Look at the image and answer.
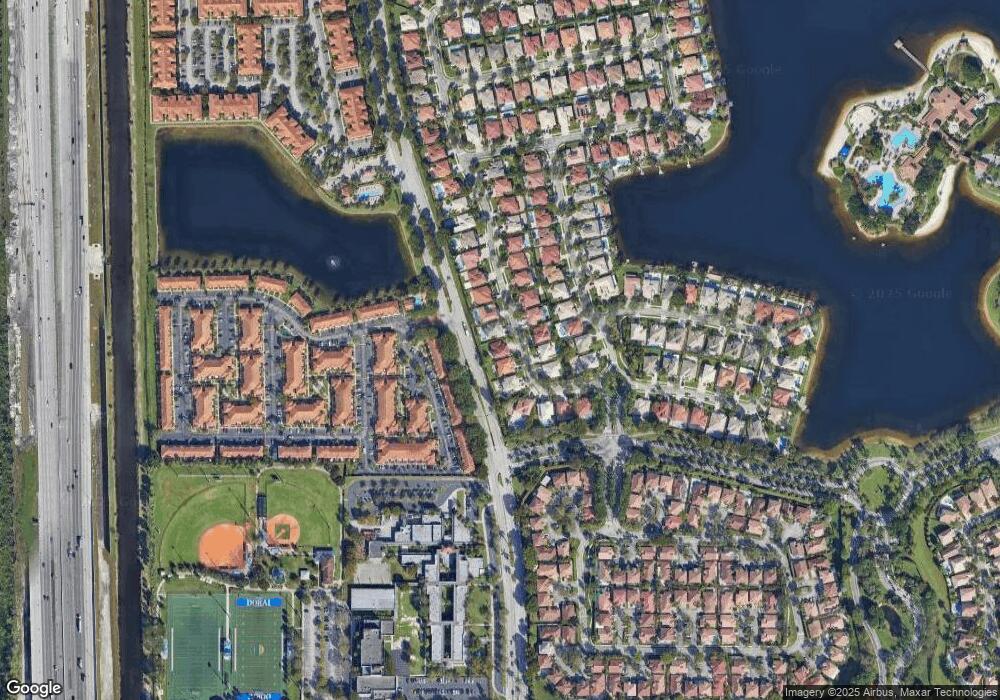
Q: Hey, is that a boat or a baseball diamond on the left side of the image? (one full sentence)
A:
Visible on the left side of the image is a baseball diamond.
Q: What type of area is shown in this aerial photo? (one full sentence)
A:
The picture captures a residential area.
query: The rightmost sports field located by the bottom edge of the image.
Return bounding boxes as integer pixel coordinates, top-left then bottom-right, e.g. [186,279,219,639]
[231,594,288,700]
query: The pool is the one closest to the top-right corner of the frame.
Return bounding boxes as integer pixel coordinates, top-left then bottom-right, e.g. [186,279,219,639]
[889,127,920,150]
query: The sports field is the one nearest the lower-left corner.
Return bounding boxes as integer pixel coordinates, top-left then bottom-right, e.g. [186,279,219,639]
[168,594,227,700]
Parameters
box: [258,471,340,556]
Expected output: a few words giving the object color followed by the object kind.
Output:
green baseball field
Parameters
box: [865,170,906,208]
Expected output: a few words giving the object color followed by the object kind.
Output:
blue swimming pool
